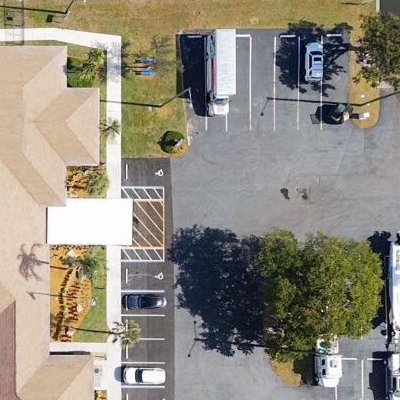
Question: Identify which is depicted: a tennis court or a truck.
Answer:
truck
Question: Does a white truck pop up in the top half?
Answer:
Yes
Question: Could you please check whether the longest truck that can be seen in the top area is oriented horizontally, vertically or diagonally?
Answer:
vertically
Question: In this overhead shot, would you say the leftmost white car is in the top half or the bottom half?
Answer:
bottom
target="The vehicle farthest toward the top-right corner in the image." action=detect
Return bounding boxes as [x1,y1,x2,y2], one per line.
[303,42,327,82]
